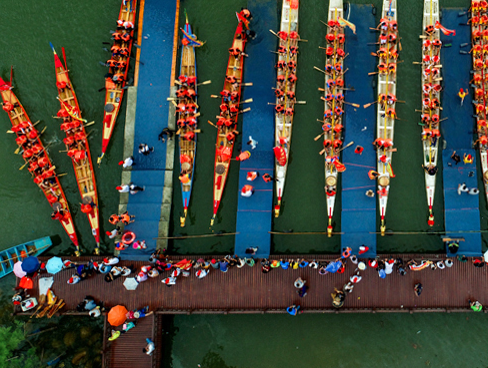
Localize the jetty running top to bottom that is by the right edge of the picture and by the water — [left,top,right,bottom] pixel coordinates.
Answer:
[441,8,481,259]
